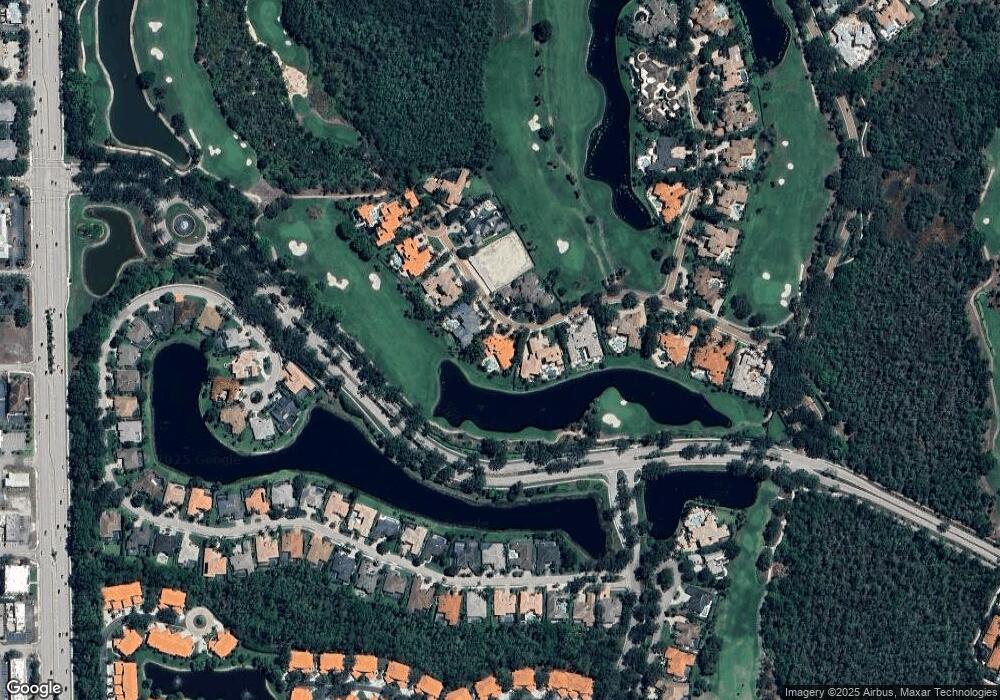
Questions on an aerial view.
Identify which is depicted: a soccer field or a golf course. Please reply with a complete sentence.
Visible in the photo is a golf course.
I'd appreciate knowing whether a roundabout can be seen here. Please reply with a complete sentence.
Yes, this view includes a roundabout.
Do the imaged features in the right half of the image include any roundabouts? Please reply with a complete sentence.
No, no roundabout can be made out in the right half of the image.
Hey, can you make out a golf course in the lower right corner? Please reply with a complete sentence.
Yes, you'll find a golf course in the lower right corner.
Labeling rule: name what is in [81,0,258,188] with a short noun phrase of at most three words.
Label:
golf course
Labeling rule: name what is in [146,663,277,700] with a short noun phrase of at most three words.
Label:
pond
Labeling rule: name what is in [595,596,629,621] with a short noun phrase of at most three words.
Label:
house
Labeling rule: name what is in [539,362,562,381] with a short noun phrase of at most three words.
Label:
swimming pool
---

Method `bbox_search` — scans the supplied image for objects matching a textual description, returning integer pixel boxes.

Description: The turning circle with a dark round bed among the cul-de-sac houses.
[242,383,271,411]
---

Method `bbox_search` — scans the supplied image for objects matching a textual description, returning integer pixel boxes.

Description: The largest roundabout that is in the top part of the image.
[158,196,214,252]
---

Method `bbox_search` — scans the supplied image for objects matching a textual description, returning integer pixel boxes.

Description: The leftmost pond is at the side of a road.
[83,206,142,296]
